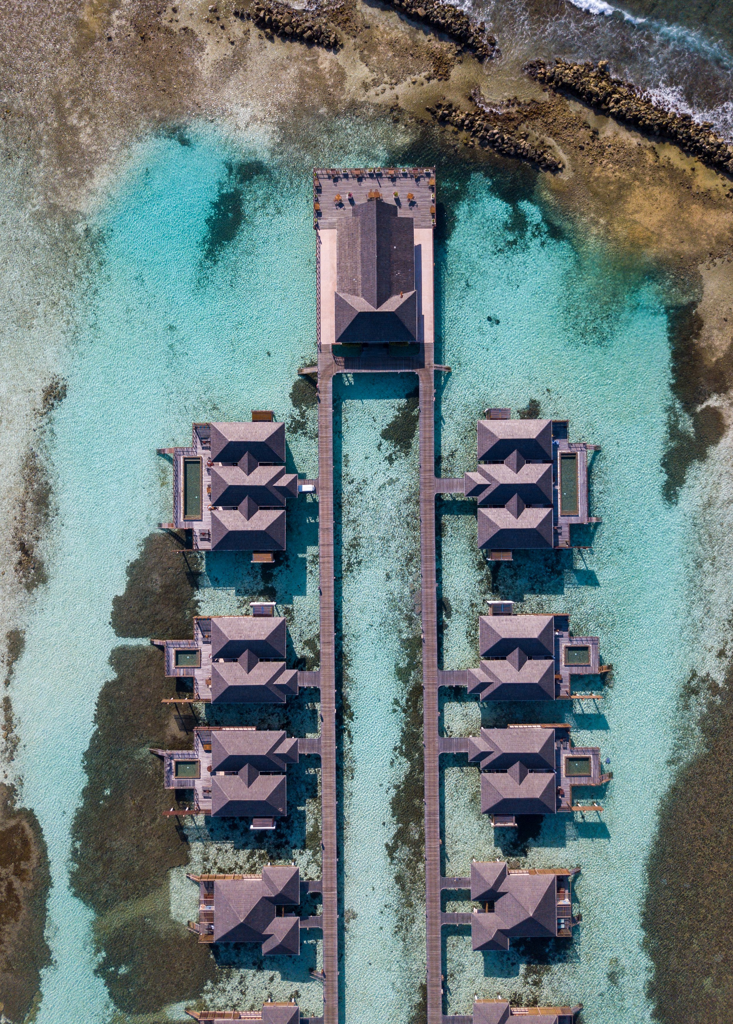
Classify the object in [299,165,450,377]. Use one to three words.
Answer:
building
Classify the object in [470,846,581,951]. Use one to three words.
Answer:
house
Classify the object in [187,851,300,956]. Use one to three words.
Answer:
house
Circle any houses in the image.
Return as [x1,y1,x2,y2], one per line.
[466,599,610,702]
[473,982,582,1024]
[187,851,300,956]
[187,985,300,1024]
[470,846,581,951]
[463,408,599,561]
[151,724,299,829]
[153,600,299,704]
[159,409,299,563]
[467,722,611,825]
